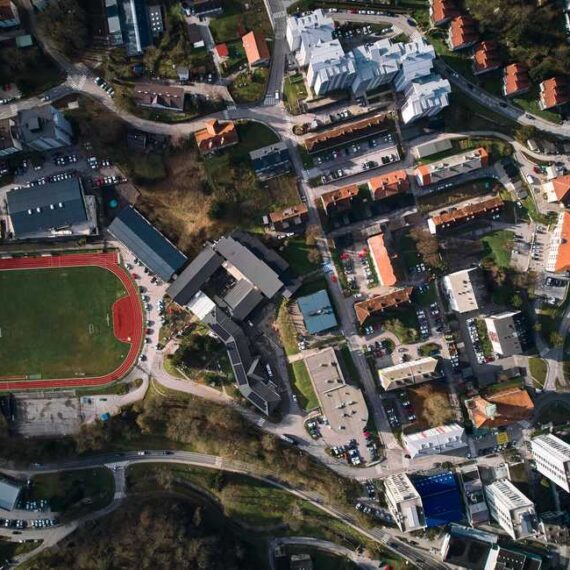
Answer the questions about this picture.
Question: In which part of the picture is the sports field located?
left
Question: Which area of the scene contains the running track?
left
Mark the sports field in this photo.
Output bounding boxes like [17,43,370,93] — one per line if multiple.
[0,266,130,384]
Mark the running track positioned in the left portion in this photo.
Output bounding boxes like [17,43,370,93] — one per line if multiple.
[0,253,143,390]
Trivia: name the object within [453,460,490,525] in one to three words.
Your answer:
building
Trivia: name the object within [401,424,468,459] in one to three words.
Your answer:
building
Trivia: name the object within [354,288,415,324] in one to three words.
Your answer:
house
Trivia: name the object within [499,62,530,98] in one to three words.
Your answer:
house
